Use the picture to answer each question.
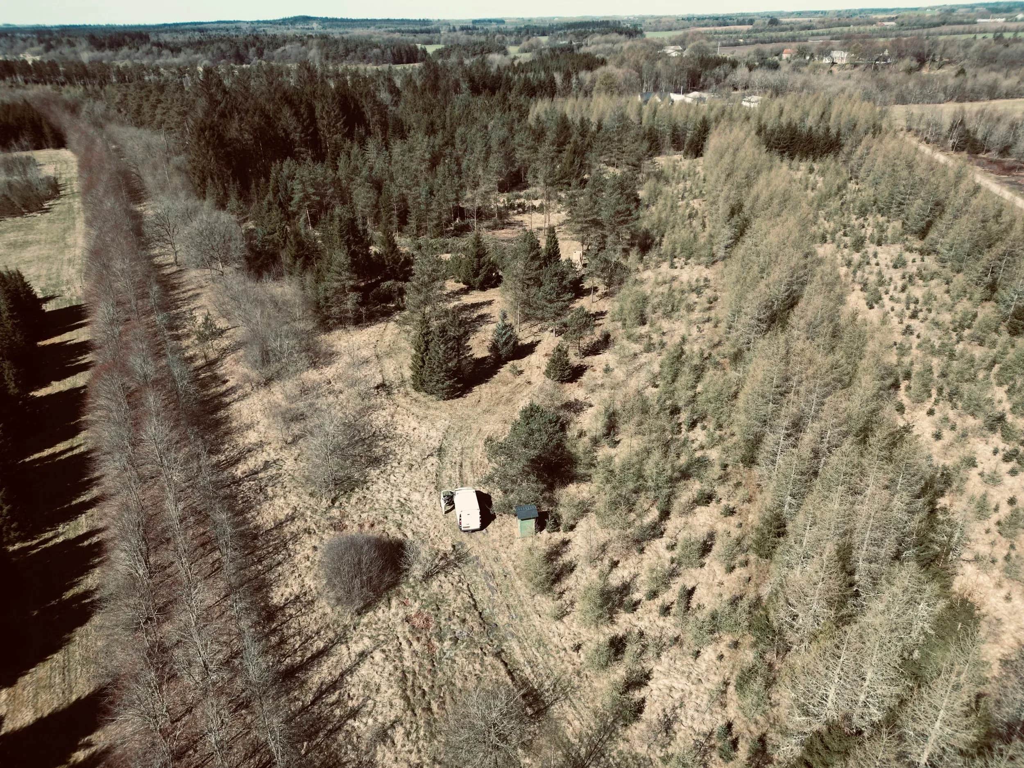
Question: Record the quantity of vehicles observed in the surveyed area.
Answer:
1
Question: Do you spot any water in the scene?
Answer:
No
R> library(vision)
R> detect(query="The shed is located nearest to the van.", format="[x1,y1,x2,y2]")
[514,505,537,536]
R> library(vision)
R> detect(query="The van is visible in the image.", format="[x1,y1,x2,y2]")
[442,492,482,530]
